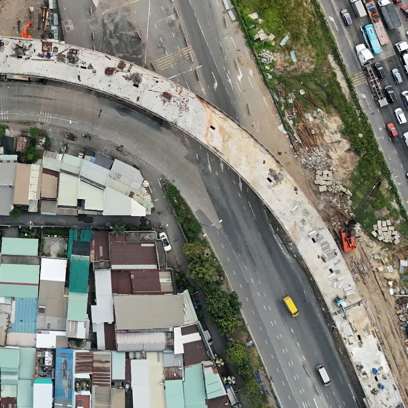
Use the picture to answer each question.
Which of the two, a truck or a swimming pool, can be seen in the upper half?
truck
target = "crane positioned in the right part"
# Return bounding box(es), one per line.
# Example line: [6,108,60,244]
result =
[340,182,381,253]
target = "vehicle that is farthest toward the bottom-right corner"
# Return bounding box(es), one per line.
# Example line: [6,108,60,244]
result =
[314,362,328,384]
